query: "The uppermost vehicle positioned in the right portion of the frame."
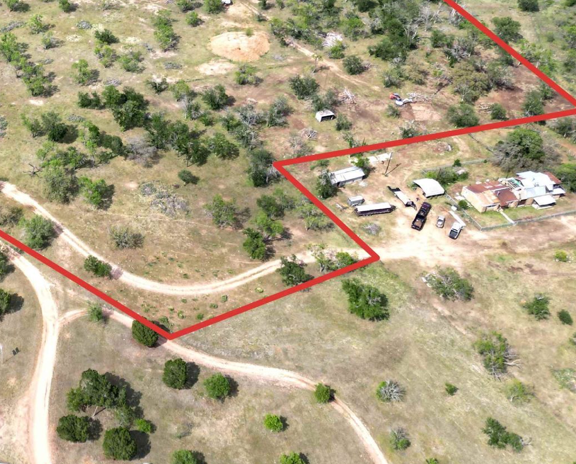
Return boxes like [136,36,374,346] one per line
[388,89,406,102]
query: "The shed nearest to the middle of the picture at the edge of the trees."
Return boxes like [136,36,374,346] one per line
[321,157,367,184]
